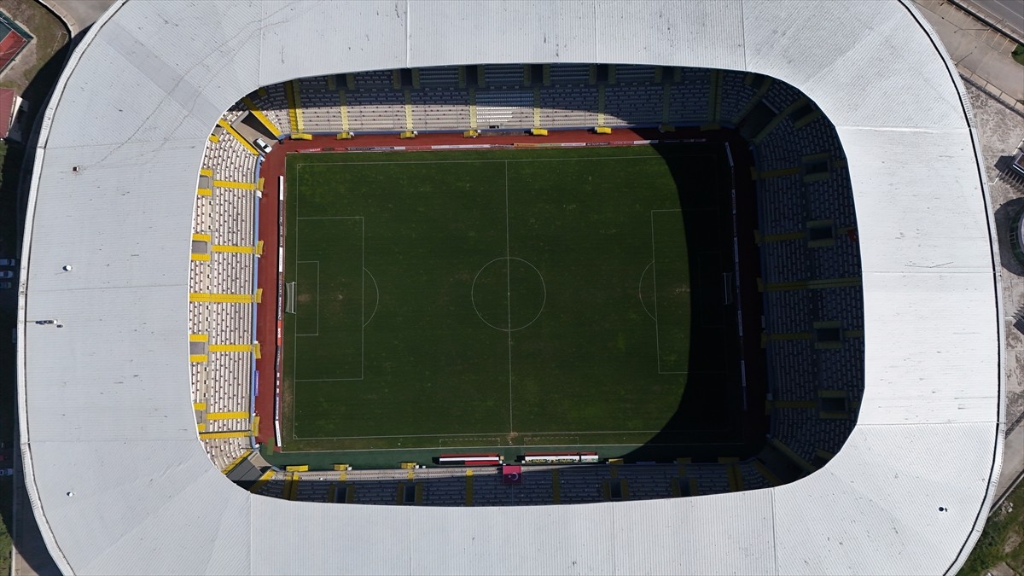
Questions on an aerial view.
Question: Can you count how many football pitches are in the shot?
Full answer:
My tally gives 1 football pitch in this photo.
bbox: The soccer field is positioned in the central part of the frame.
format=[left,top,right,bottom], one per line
[279,143,745,453]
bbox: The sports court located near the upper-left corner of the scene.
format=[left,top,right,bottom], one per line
[0,10,38,81]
